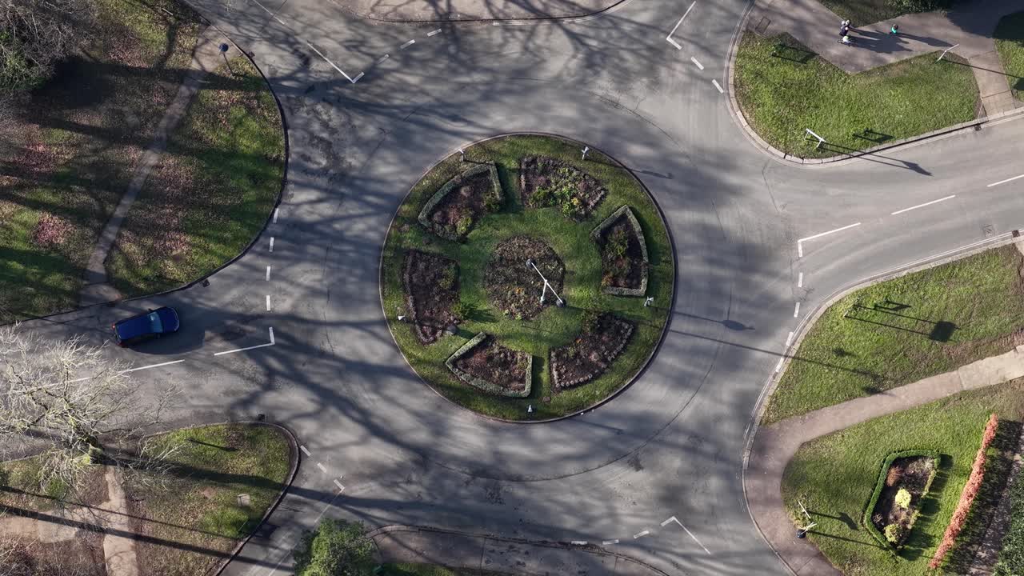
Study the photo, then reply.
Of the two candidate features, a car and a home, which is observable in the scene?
car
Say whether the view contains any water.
No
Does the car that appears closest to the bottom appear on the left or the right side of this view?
left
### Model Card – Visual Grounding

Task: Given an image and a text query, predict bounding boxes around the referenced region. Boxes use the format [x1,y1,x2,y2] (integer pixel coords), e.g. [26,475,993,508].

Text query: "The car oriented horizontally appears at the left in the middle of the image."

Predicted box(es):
[114,309,182,347]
